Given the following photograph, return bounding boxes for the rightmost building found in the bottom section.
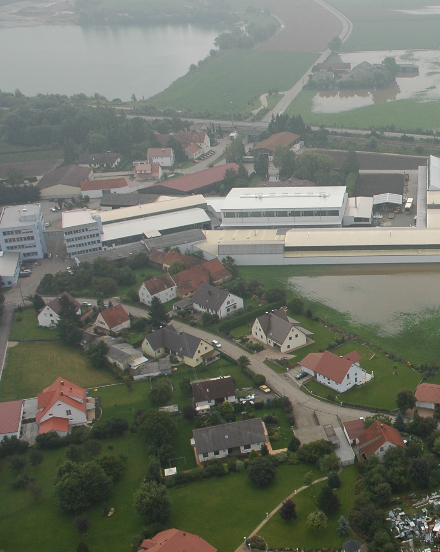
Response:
[415,386,440,410]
